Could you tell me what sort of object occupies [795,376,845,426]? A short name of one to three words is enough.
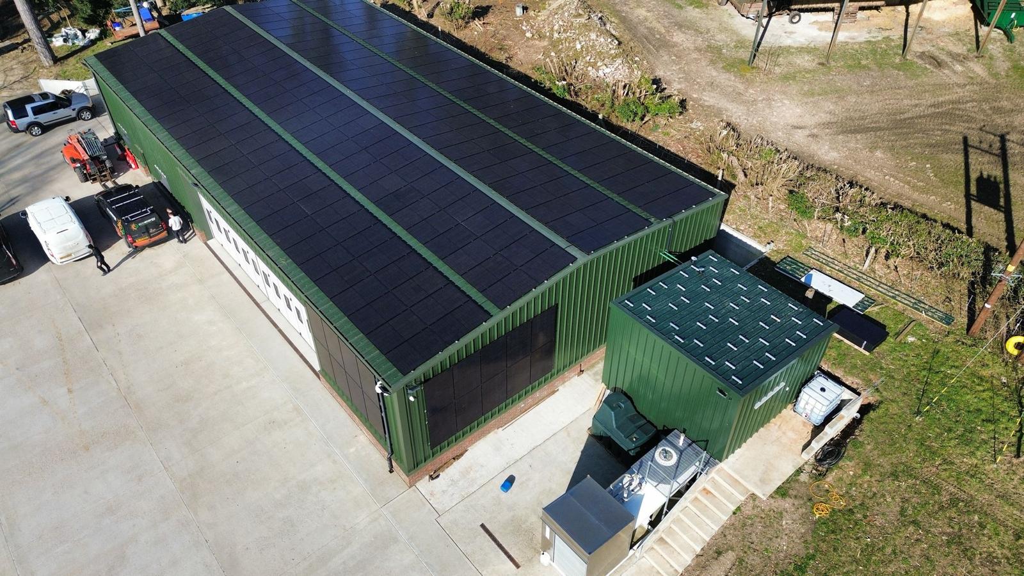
water tank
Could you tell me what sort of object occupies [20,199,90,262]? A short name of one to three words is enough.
van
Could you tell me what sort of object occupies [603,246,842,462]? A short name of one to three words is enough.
shed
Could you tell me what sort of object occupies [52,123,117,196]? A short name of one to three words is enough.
work vehicle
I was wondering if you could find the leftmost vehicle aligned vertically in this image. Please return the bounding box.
[0,225,22,275]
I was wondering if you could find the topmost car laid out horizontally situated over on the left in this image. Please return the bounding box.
[0,89,99,136]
